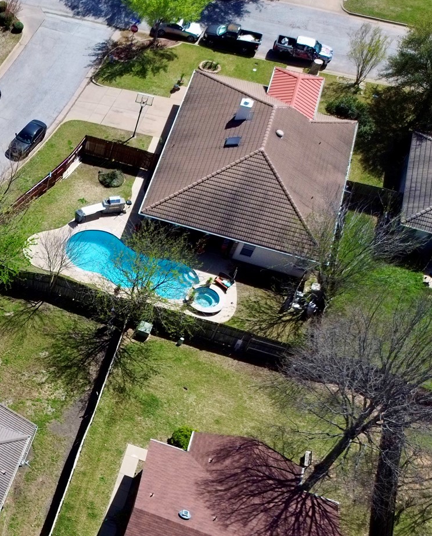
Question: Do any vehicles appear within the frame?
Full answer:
Yes, I can see a vehicle in this picture.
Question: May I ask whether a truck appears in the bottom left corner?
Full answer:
No, I can find no truck in the bottom left corner.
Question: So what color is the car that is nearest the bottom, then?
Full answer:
The car that is nearest the bottom looks black in the image.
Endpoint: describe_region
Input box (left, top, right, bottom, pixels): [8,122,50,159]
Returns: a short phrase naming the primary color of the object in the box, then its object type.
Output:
black car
